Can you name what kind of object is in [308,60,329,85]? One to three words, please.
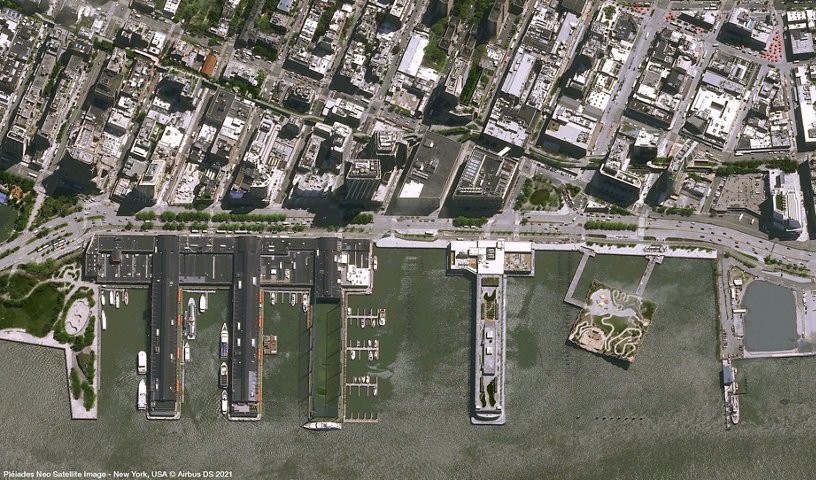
building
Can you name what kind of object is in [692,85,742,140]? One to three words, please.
building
